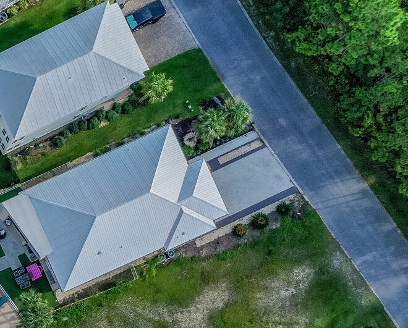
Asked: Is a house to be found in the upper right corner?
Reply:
No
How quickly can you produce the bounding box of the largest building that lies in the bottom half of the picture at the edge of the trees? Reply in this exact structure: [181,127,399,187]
[2,124,230,291]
